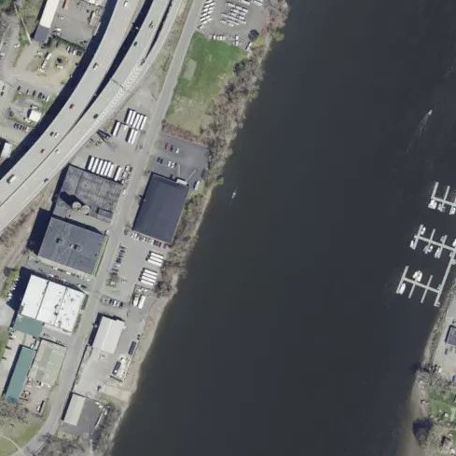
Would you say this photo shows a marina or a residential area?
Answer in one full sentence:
The area seen from above is a marina.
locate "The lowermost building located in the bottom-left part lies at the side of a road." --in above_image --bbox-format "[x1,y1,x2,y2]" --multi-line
[63,394,85,426]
